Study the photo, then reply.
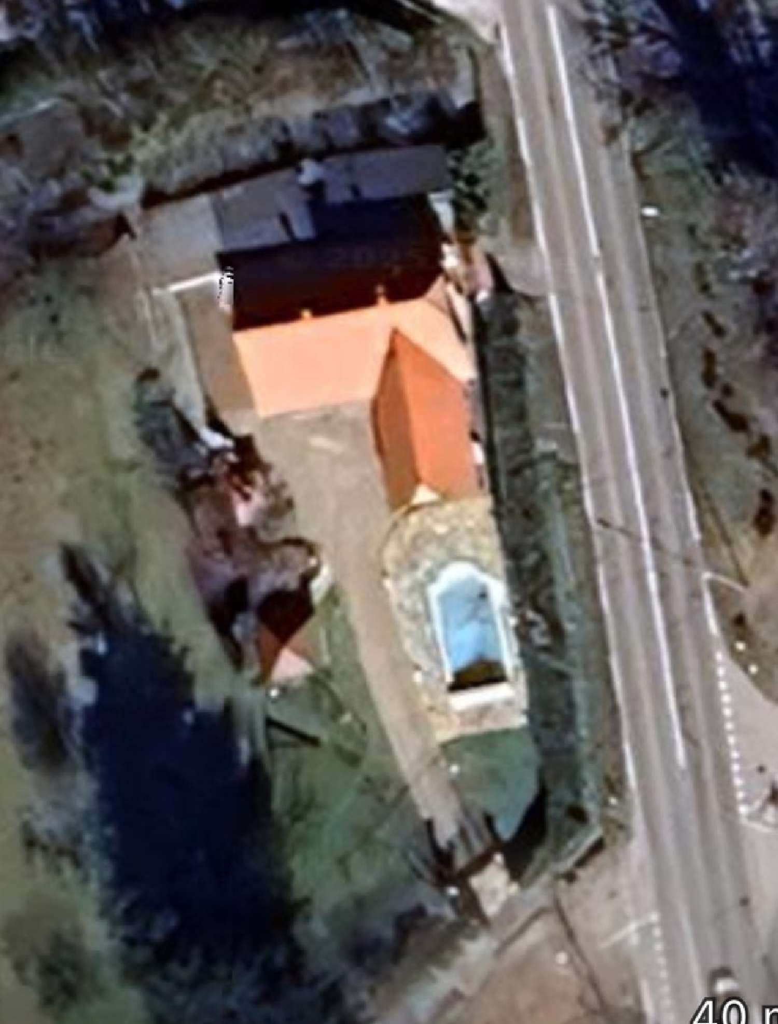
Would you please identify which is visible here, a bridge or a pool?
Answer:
pool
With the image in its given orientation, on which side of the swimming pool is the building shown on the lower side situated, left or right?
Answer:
on its left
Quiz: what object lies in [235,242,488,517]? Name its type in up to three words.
house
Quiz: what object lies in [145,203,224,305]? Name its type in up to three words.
shed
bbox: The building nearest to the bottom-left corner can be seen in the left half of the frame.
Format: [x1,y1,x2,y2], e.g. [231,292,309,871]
[256,606,325,687]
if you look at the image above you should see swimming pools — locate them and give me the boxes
[428,564,514,698]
